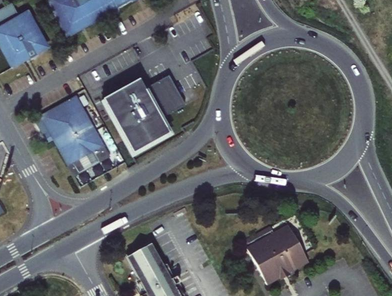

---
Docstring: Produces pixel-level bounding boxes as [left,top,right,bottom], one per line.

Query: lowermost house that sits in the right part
[246,220,308,286]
